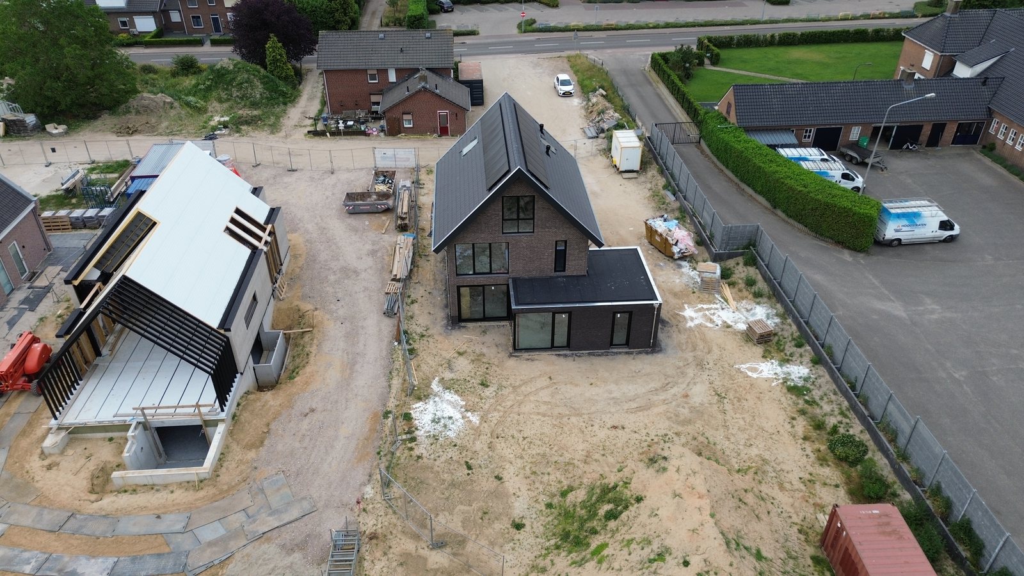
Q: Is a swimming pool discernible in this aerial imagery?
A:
No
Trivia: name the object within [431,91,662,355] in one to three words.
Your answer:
house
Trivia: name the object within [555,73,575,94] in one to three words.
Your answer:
car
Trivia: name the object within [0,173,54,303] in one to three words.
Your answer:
house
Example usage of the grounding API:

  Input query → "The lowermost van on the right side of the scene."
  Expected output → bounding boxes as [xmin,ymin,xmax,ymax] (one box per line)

[869,198,965,247]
